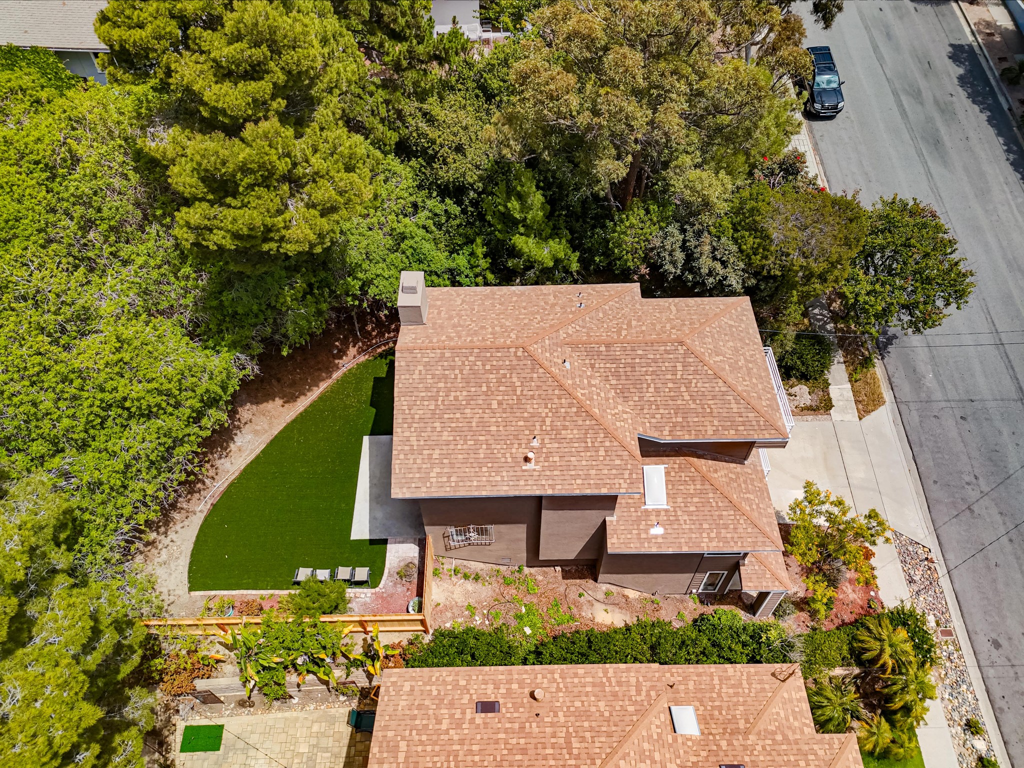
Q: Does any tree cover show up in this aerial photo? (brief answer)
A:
Yes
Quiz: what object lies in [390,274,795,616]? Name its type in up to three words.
house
